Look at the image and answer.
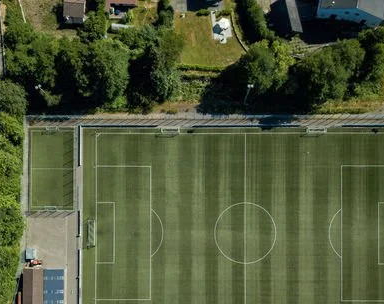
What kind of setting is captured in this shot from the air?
sports ground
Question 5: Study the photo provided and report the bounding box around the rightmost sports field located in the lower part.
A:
[81,125,384,304]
